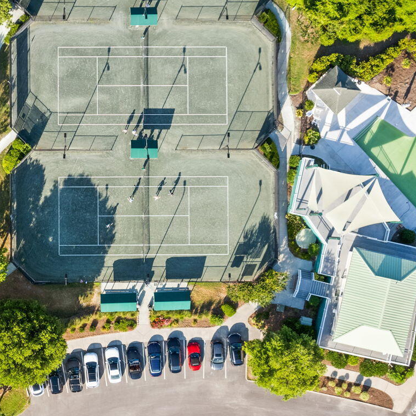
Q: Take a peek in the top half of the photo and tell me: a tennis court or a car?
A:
tennis court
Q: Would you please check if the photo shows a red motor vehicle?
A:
Yes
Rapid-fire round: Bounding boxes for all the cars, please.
[126,347,142,380]
[166,338,183,373]
[29,369,44,397]
[66,357,84,395]
[105,346,122,384]
[228,333,245,366]
[187,341,203,372]
[45,360,63,395]
[210,340,226,372]
[83,353,99,389]
[146,342,163,377]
